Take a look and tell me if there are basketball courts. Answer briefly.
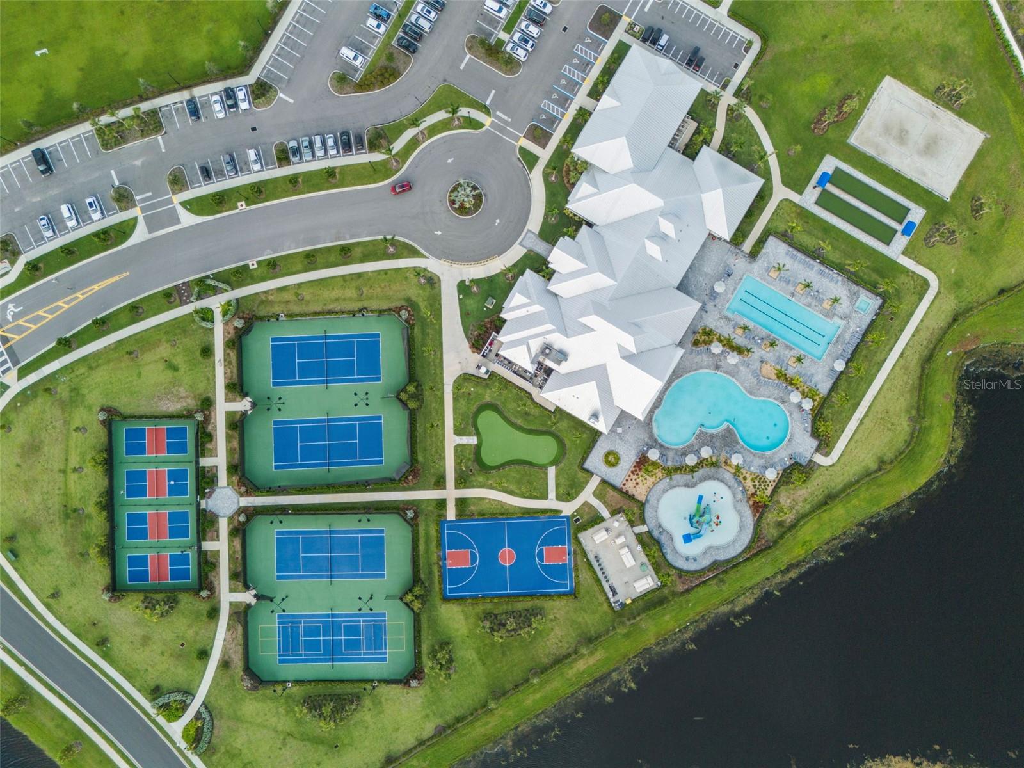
Yes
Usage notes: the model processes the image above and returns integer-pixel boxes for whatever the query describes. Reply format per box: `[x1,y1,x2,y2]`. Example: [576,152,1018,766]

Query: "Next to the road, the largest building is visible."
[497,44,764,435]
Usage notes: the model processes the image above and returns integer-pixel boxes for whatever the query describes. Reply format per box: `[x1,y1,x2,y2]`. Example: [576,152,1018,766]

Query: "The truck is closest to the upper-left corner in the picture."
[29,147,51,176]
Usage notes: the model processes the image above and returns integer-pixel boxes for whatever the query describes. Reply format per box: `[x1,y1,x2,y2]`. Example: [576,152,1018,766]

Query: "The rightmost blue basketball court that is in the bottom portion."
[441,515,574,599]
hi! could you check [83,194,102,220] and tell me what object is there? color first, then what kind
white car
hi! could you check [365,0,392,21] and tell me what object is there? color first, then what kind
blue truck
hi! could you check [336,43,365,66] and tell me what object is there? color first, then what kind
white car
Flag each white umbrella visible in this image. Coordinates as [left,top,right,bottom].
[832,359,844,370]
[727,353,738,364]
[765,468,776,479]
[713,280,725,292]
[710,342,722,353]
[789,391,801,403]
[700,446,712,457]
[801,398,812,410]
[648,448,659,460]
[731,453,742,464]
